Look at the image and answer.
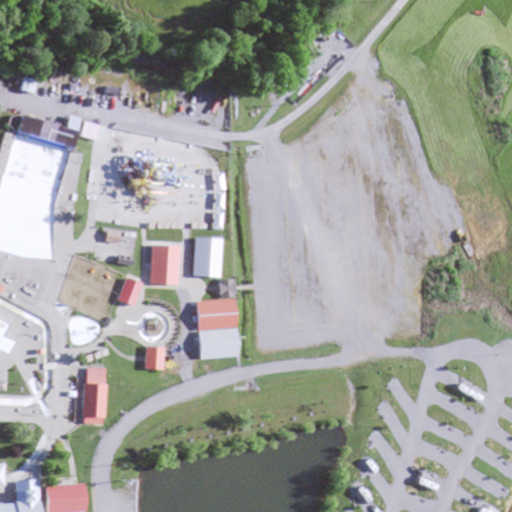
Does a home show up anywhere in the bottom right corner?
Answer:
No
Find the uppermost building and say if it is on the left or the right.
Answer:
left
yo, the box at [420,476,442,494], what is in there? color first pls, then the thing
white vehicle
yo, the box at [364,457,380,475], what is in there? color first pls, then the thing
white vehicle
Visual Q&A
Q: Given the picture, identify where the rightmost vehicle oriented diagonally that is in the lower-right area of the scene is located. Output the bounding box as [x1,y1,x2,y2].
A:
[459,382,486,402]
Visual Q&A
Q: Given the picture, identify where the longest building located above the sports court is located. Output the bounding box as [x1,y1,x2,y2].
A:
[8,116,78,146]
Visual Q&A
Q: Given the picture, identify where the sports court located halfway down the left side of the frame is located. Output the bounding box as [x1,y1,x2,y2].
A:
[58,254,124,320]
